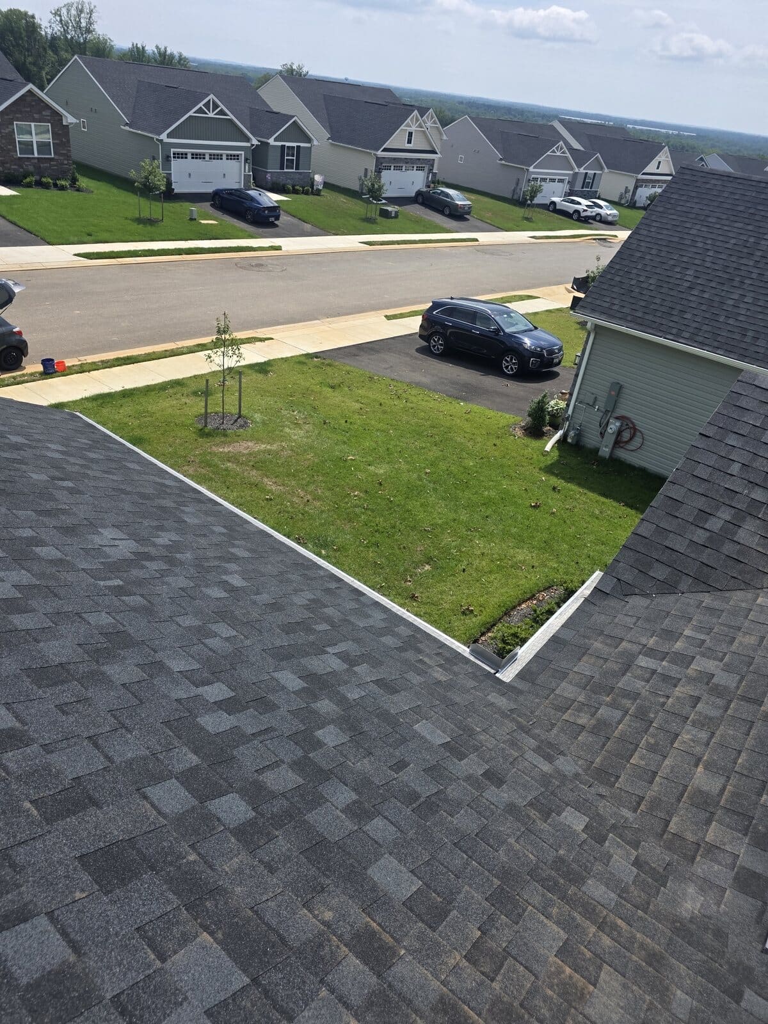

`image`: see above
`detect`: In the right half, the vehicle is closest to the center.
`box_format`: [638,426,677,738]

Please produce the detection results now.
[418,297,571,377]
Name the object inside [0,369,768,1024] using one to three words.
house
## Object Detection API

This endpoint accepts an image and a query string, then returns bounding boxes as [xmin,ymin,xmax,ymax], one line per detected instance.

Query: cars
[418,297,571,377]
[413,187,470,212]
[213,189,287,222]
[545,196,594,219]
[0,278,28,370]
[585,200,616,221]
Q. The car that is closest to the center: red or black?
black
